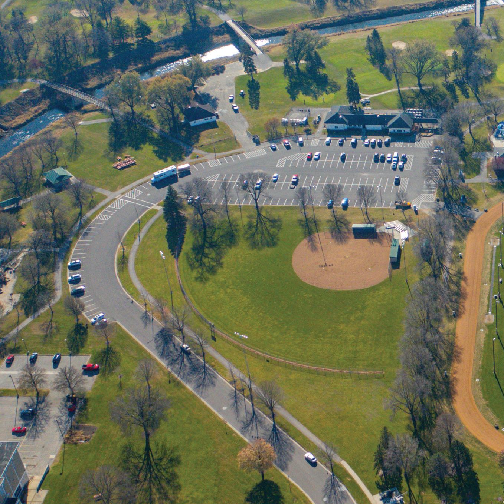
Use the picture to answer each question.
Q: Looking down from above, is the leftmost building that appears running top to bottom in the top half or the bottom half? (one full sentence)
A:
The leftmost building that appears running top to bottom sits in the bottom half of the picture.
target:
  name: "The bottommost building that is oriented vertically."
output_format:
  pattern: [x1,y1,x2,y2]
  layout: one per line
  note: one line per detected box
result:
[0,442,29,504]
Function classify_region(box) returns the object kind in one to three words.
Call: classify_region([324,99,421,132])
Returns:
building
